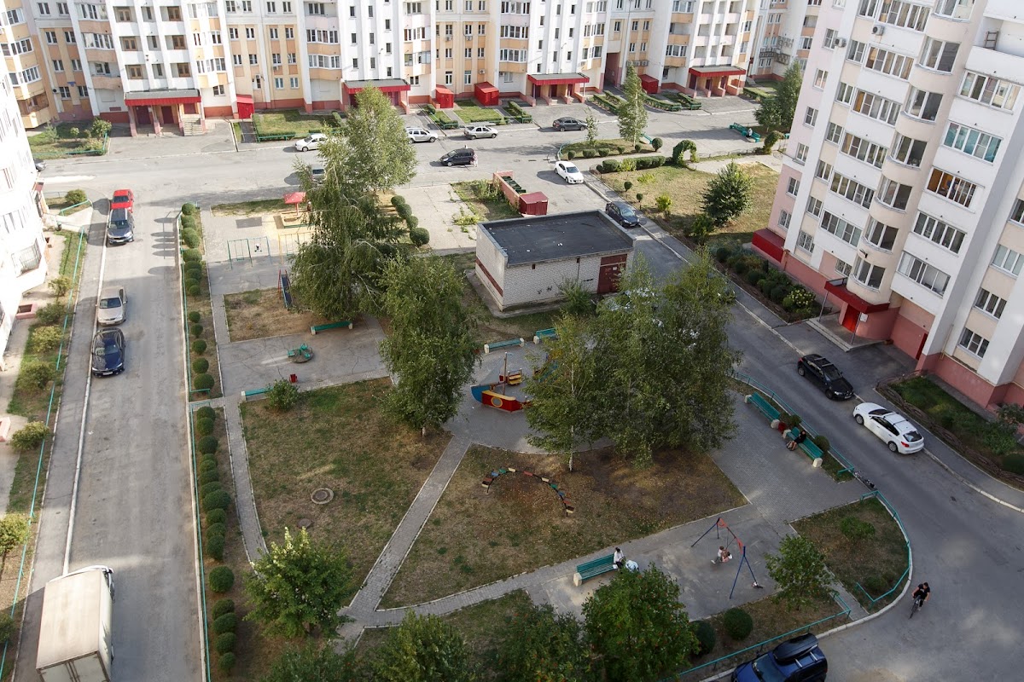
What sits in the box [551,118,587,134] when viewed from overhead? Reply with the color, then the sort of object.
gray car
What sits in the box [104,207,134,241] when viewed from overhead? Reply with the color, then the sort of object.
gray car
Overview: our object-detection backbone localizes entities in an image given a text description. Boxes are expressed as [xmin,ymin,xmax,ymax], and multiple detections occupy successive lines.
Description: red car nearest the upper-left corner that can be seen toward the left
[108,190,134,213]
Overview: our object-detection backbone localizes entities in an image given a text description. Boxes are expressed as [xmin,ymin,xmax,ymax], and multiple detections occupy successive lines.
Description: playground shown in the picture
[200,191,398,396]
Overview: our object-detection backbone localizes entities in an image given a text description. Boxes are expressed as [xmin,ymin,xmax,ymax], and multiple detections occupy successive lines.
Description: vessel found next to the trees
[463,354,545,412]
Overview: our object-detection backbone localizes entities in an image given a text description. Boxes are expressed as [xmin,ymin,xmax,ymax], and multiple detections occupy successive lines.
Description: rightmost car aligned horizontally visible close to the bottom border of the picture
[723,631,837,682]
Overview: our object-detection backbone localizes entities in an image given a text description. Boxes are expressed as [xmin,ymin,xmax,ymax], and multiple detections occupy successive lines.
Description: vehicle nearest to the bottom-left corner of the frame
[32,558,121,682]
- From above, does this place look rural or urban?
urban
